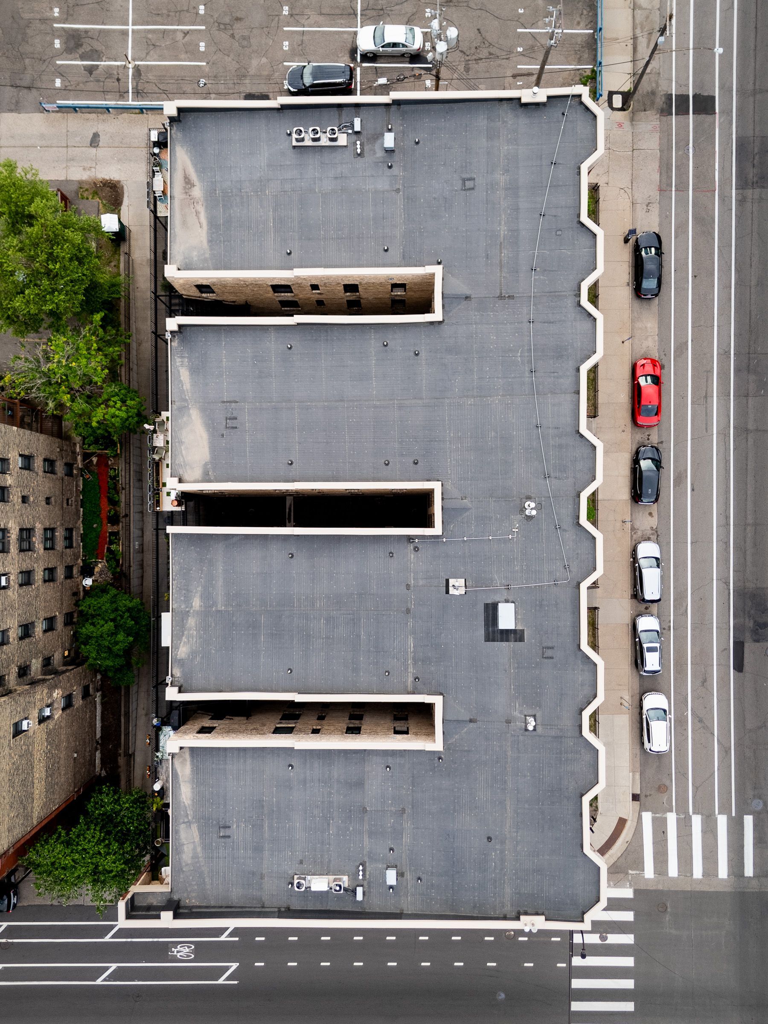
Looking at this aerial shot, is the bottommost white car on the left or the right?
right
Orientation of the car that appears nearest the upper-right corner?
from top to bottom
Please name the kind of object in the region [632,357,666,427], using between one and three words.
car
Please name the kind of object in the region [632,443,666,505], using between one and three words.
car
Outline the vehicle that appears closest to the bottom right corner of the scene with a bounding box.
[640,690,674,755]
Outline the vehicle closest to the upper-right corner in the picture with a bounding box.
[633,230,666,299]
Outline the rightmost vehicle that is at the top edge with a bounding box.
[356,20,423,57]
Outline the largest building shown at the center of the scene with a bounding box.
[118,80,607,937]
